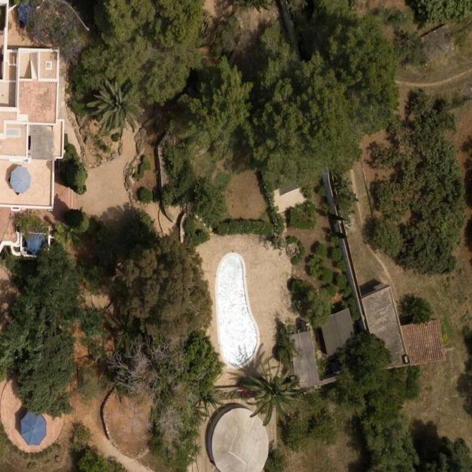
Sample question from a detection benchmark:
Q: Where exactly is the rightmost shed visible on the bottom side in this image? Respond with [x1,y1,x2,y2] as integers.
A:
[401,317,446,366]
